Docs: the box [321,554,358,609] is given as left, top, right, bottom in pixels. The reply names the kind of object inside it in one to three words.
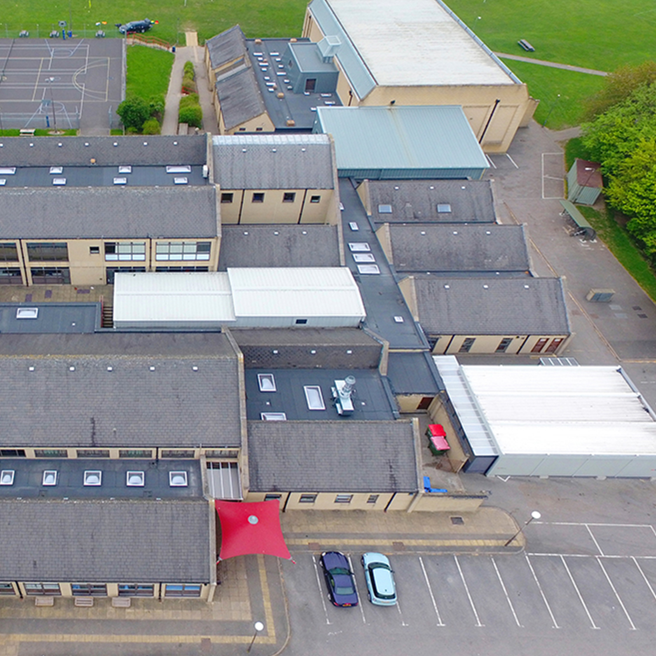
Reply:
car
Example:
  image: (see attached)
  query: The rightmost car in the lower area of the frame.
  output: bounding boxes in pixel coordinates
[361,553,397,608]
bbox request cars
[119,14,156,33]
[361,553,397,608]
[321,554,358,609]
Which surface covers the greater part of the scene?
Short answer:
buildings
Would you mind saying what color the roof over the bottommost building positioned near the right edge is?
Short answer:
white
